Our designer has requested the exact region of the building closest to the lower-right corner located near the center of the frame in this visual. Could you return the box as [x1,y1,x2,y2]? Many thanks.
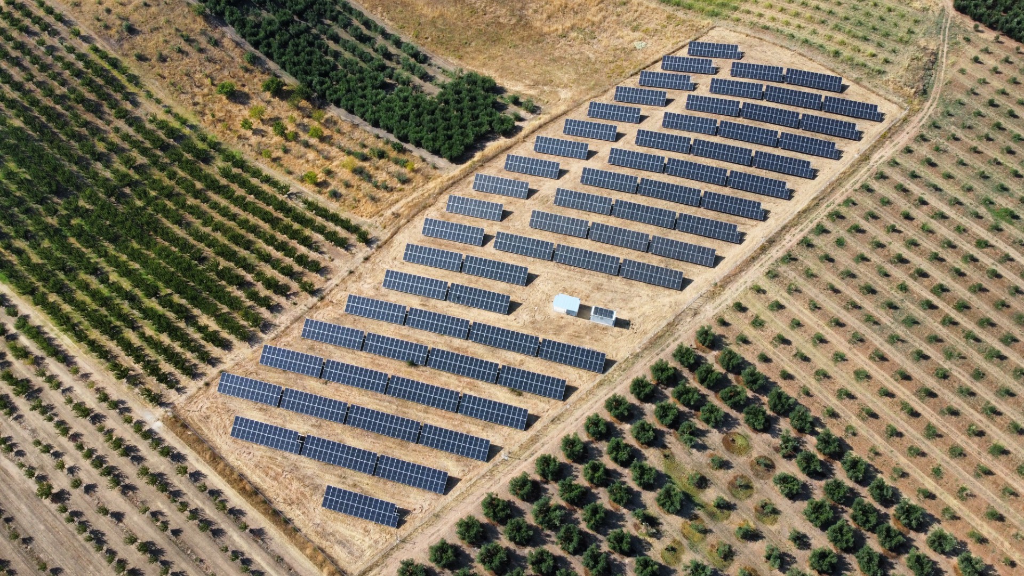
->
[589,305,619,327]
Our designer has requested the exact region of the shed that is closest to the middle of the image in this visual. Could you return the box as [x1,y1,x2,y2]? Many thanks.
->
[552,293,581,317]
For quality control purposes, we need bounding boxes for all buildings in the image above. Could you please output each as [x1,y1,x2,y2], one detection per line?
[589,305,619,327]
[552,293,581,317]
